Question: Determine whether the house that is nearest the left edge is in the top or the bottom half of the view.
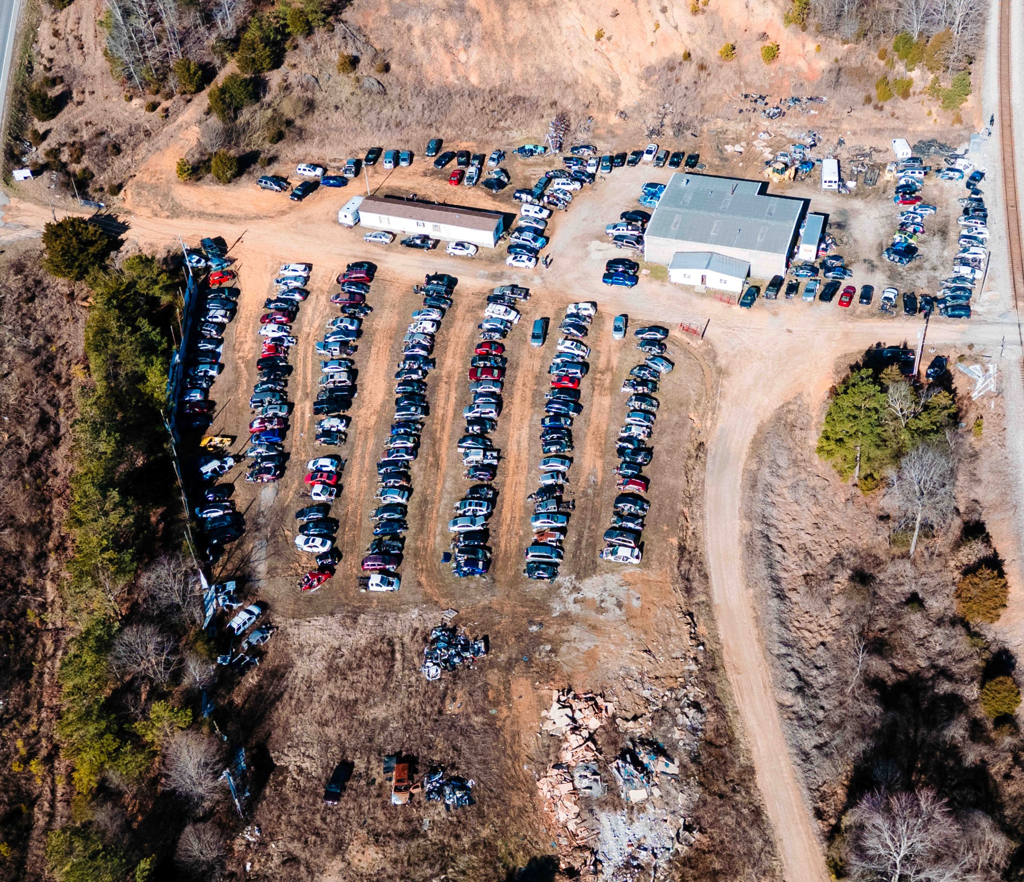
top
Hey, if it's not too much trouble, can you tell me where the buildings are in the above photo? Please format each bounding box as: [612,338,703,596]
[643,173,800,276]
[356,195,503,247]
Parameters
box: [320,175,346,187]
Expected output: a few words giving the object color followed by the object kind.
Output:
blue vehicle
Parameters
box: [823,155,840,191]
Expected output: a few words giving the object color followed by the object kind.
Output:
white vehicle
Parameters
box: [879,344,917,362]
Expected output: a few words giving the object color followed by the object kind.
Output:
black car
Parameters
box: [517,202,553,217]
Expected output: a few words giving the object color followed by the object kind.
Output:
white vehicle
